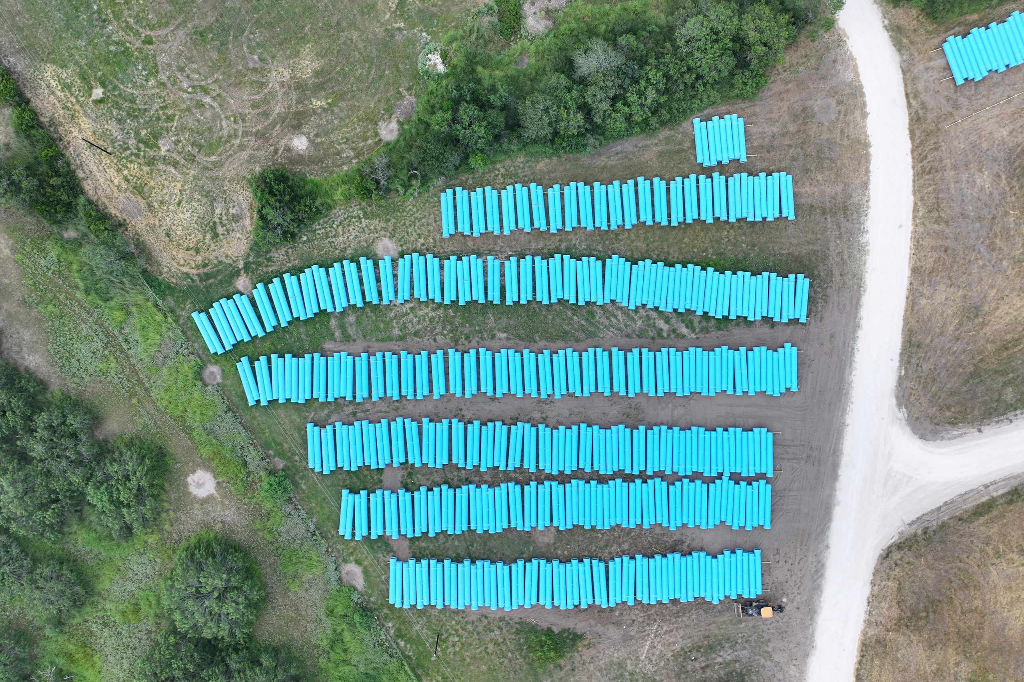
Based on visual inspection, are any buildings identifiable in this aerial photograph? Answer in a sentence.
No, there is no building in the image.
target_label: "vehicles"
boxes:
[733,599,787,620]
